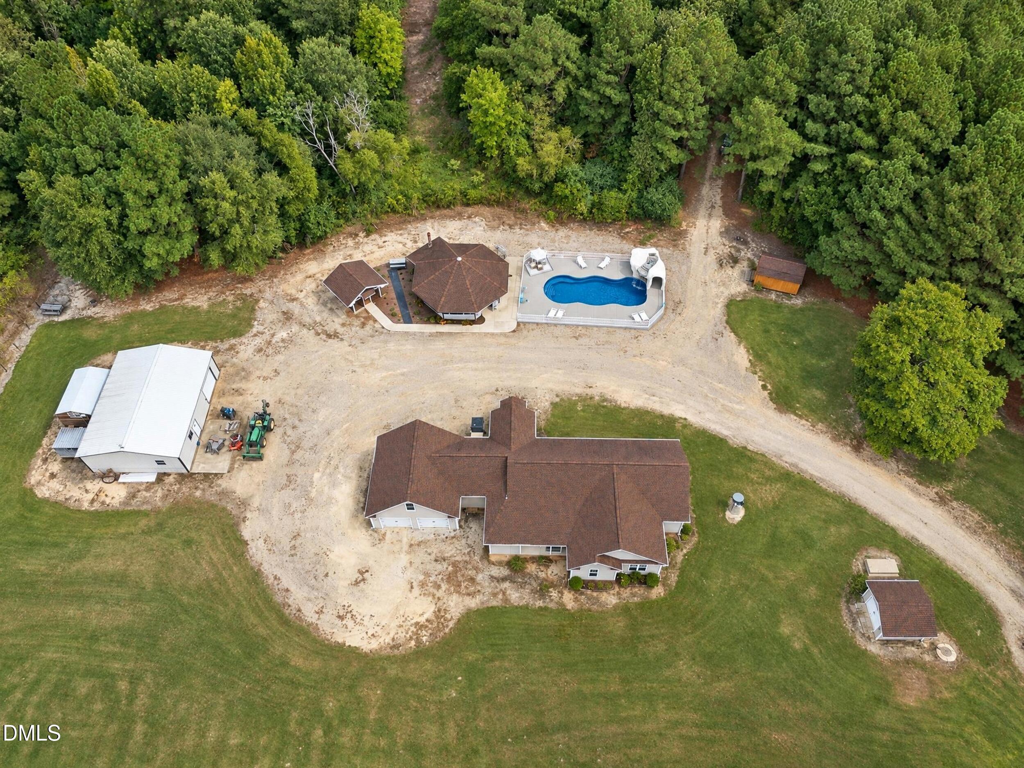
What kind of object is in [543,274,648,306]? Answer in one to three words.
swimming pool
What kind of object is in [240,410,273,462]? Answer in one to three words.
work vehicle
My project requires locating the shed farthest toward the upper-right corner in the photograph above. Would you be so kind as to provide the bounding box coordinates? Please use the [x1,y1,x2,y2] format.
[752,248,807,299]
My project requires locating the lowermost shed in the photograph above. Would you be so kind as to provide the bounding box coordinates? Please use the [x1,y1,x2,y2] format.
[858,580,939,648]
